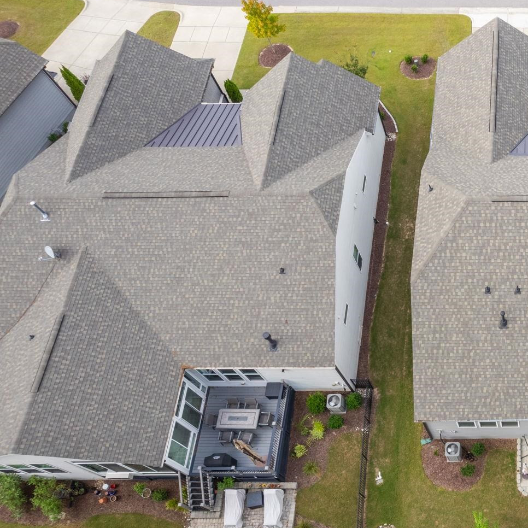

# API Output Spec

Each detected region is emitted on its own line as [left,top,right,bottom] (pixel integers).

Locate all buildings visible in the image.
[0,30,389,489]
[409,17,528,446]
